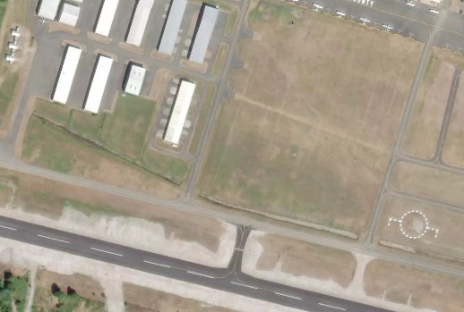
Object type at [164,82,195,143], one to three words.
hangar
